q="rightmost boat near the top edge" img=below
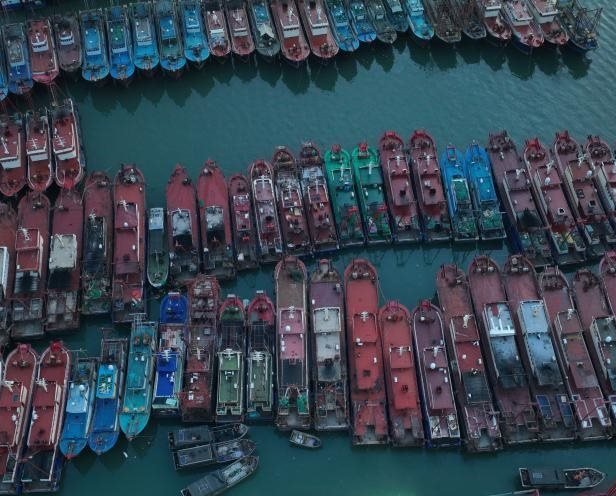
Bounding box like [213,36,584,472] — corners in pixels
[562,0,607,70]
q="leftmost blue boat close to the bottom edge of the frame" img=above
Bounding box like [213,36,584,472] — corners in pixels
[59,357,100,481]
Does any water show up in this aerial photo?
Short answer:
Yes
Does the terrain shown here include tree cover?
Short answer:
No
